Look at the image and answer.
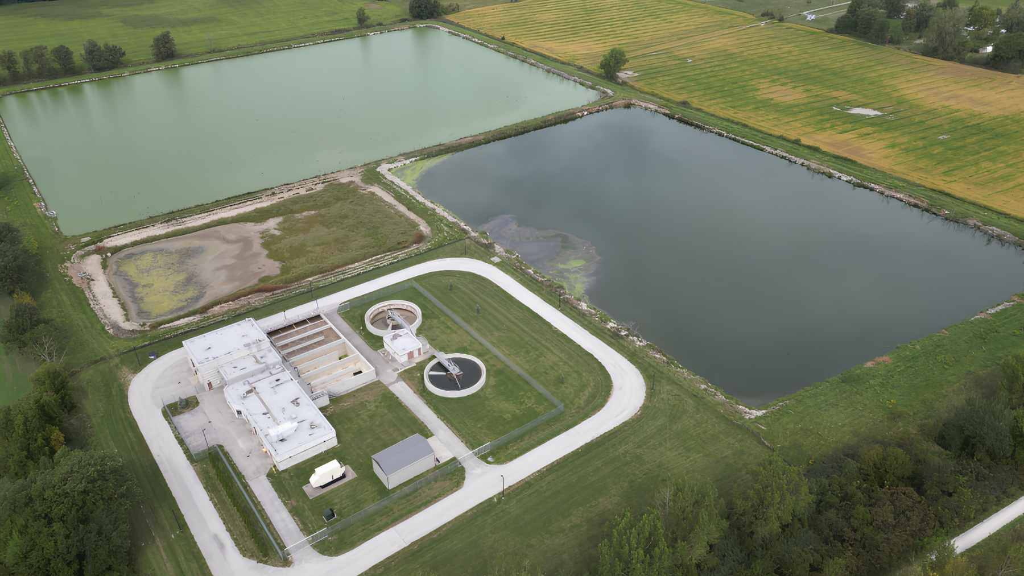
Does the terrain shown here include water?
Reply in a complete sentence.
Yes, water shows up in the scene.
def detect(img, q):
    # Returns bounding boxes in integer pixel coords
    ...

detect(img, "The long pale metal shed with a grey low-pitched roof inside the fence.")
[372,435,436,490]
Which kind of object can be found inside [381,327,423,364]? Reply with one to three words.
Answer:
building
